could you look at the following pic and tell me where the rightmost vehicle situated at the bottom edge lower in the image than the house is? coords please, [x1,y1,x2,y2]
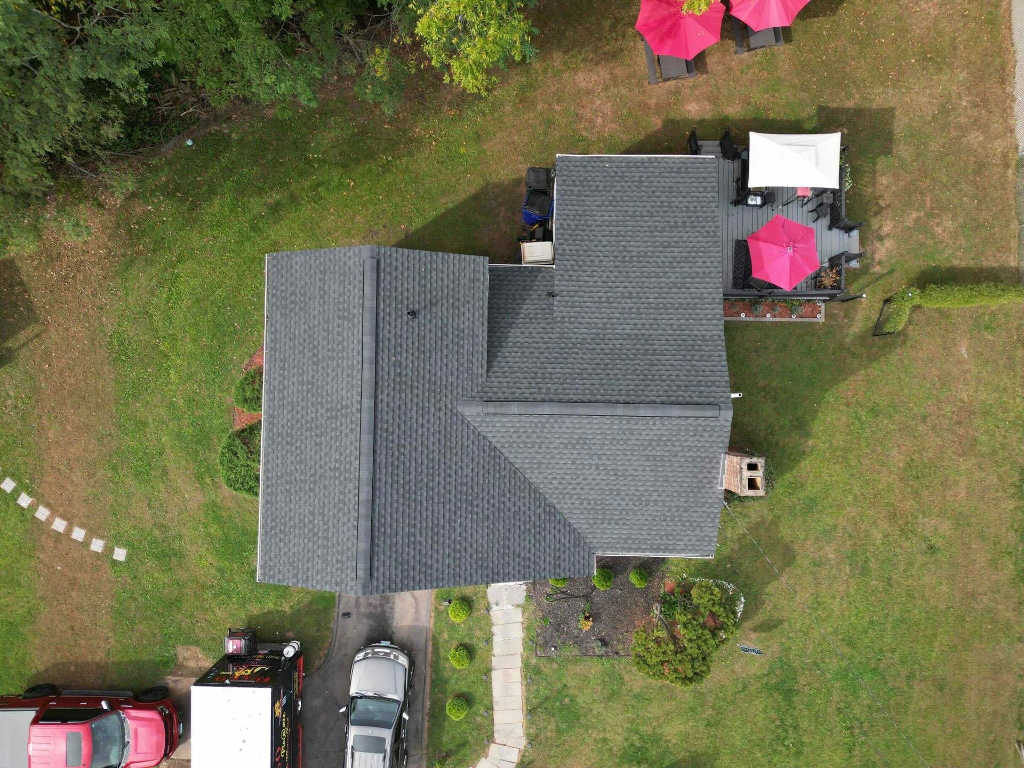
[339,641,414,768]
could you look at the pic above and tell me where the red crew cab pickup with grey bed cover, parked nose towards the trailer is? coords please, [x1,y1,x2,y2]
[0,690,188,768]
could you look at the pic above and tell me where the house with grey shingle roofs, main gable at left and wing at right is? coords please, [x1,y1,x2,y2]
[257,154,766,597]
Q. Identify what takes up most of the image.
grass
